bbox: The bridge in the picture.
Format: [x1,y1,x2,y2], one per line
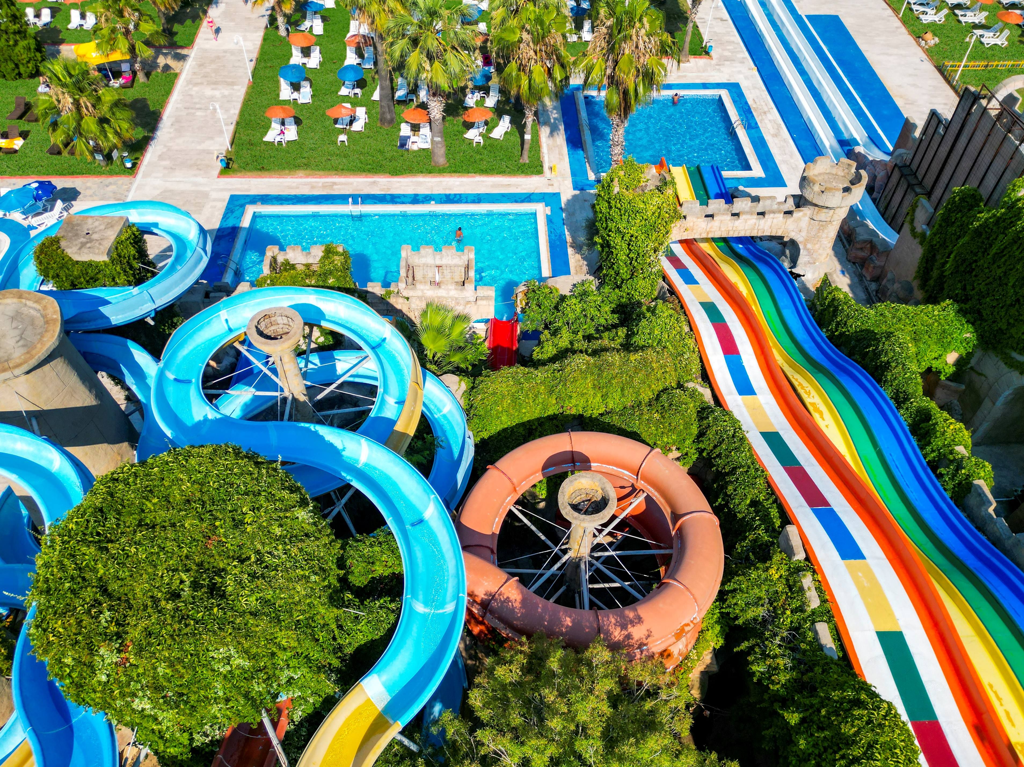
[663,191,824,289]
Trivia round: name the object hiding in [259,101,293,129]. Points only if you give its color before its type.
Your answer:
orange umbrella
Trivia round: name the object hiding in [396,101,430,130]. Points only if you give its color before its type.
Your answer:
orange umbrella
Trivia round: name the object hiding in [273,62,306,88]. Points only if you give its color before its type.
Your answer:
blue umbrella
